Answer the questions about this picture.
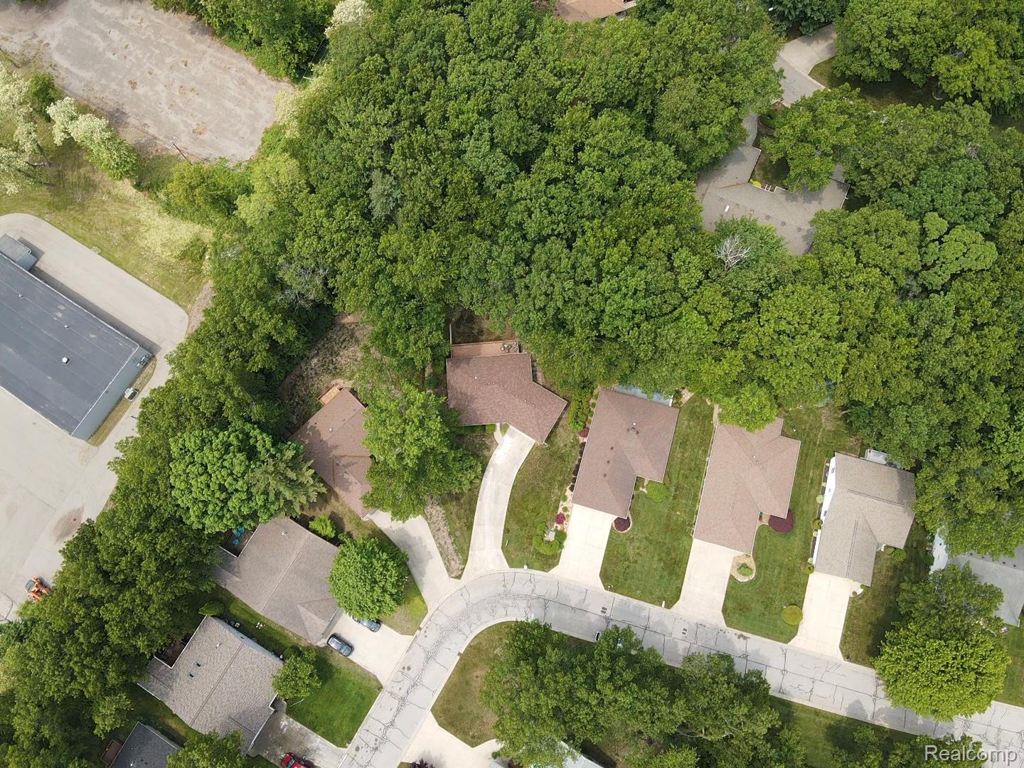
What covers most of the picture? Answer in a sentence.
What you mostly see from above here is trees.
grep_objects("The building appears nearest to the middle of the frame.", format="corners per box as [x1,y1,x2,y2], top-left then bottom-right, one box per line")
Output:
[446,353,568,443]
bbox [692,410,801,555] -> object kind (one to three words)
house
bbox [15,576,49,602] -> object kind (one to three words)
work vehicle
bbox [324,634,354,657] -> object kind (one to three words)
car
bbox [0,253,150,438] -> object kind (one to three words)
warehouse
